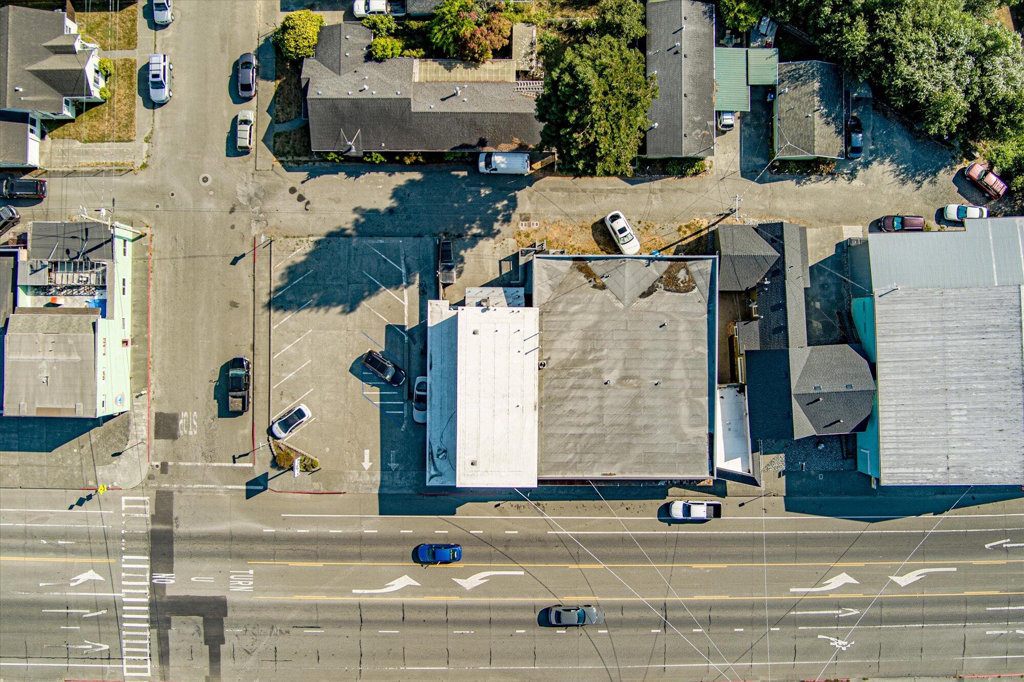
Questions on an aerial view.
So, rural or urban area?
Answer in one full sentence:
It looks urban.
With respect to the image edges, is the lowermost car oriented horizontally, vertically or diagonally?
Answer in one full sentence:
The lowermost car runs horizontally in the image.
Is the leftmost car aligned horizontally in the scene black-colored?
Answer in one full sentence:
Yes, the leftmost car aligned horizontally is black.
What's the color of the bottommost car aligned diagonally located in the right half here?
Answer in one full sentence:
The bottommost car aligned diagonally located in the right half is white.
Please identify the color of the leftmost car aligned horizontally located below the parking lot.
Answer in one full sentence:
In this view, the leftmost car aligned horizontally located below the parking lot is blue.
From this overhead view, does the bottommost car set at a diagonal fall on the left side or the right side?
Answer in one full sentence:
The bottommost car set at a diagonal sits on the left side.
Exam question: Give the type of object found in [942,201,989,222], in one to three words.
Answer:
car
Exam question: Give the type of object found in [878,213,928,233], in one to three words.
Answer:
car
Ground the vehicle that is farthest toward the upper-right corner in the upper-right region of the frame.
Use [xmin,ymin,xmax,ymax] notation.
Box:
[962,164,1013,202]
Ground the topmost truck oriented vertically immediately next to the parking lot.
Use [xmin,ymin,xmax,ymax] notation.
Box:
[437,240,458,286]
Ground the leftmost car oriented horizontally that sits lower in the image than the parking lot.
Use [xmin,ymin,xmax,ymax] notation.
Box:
[419,543,462,565]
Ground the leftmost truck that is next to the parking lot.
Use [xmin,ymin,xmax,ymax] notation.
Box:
[227,357,252,412]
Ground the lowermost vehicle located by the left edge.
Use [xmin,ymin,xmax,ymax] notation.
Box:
[0,204,23,243]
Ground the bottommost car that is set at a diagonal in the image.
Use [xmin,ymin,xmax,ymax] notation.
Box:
[272,402,313,441]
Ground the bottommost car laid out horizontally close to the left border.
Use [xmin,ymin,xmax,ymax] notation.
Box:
[0,177,49,199]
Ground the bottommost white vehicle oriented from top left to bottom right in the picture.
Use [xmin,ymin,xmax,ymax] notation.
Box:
[604,208,641,255]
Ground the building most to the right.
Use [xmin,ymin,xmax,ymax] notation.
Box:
[853,218,1024,488]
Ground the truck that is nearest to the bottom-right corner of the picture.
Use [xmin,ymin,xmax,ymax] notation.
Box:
[670,500,722,522]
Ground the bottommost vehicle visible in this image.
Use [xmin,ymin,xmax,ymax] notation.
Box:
[548,605,598,628]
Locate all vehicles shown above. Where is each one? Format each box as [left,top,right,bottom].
[479,152,530,175]
[147,52,173,104]
[715,111,737,132]
[548,605,598,628]
[0,177,49,199]
[354,0,406,16]
[419,543,462,565]
[942,201,989,222]
[437,240,458,286]
[878,213,928,233]
[604,208,641,255]
[359,349,406,388]
[151,0,176,26]
[845,117,867,160]
[962,164,1013,202]
[227,357,252,412]
[0,204,23,243]
[410,377,426,423]
[670,500,722,522]
[236,53,259,99]
[272,402,313,441]
[235,110,257,153]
